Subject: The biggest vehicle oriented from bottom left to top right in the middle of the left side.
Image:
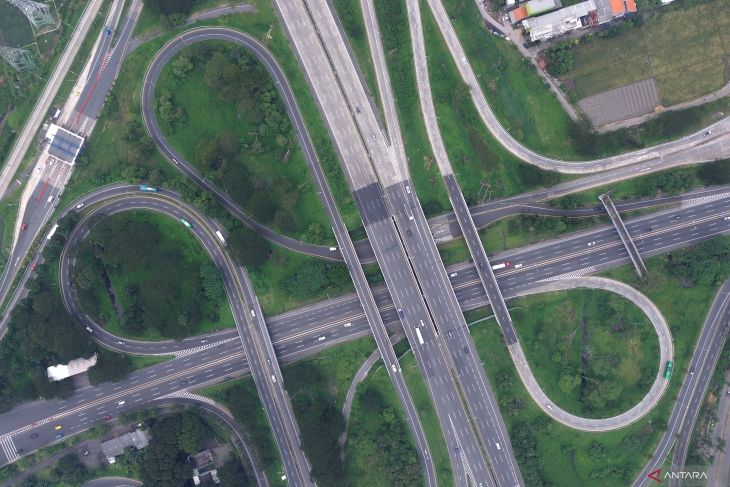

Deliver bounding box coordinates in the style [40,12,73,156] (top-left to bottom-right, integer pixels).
[44,223,59,240]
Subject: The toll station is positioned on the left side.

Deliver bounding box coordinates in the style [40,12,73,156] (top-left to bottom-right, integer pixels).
[46,126,88,171]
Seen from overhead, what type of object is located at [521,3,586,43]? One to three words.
building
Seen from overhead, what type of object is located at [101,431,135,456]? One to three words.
building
